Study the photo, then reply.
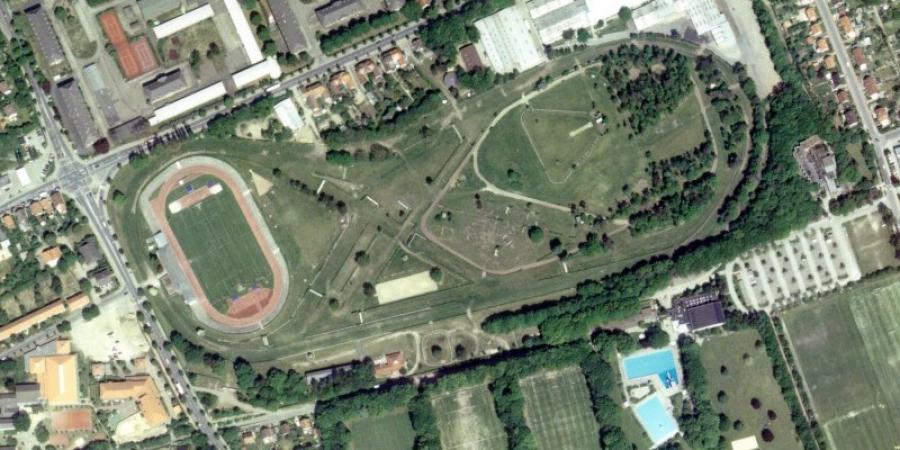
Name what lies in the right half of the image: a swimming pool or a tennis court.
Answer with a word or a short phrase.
swimming pool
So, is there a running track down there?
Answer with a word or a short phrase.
Yes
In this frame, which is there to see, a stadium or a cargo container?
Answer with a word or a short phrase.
stadium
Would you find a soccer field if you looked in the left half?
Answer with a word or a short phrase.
Yes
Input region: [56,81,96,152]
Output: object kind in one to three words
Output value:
building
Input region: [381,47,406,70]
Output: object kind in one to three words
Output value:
house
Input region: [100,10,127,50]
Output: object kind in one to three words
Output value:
tennis court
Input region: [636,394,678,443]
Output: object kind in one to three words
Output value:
swimming pool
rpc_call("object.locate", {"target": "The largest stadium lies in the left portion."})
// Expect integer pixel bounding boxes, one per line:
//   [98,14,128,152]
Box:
[139,155,289,333]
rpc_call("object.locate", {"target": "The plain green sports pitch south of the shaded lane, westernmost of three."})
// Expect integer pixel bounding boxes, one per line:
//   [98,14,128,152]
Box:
[345,409,417,450]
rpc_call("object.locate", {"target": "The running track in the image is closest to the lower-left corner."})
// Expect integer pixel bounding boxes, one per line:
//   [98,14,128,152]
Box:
[154,163,282,326]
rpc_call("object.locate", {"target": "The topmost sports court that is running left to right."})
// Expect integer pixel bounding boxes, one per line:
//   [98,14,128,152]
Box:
[53,410,91,432]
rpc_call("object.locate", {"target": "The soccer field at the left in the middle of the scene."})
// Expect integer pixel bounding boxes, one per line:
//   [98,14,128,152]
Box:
[165,173,273,319]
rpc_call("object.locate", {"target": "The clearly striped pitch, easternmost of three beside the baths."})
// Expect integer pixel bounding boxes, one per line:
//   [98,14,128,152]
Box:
[521,367,602,450]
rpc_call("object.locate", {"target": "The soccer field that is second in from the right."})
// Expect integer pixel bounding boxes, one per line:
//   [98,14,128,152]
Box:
[432,385,510,450]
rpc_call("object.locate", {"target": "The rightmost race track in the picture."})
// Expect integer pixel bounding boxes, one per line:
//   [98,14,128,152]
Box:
[298,45,747,350]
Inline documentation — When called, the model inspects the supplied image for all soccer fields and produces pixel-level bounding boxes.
[165,173,273,319]
[345,409,417,450]
[521,367,602,450]
[432,385,510,450]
